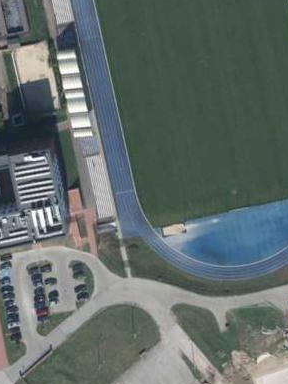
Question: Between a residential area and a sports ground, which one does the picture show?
sports ground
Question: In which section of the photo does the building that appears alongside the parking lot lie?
left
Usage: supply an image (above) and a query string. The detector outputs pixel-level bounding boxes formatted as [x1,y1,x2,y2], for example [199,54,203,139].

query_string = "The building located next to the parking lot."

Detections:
[0,149,71,255]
